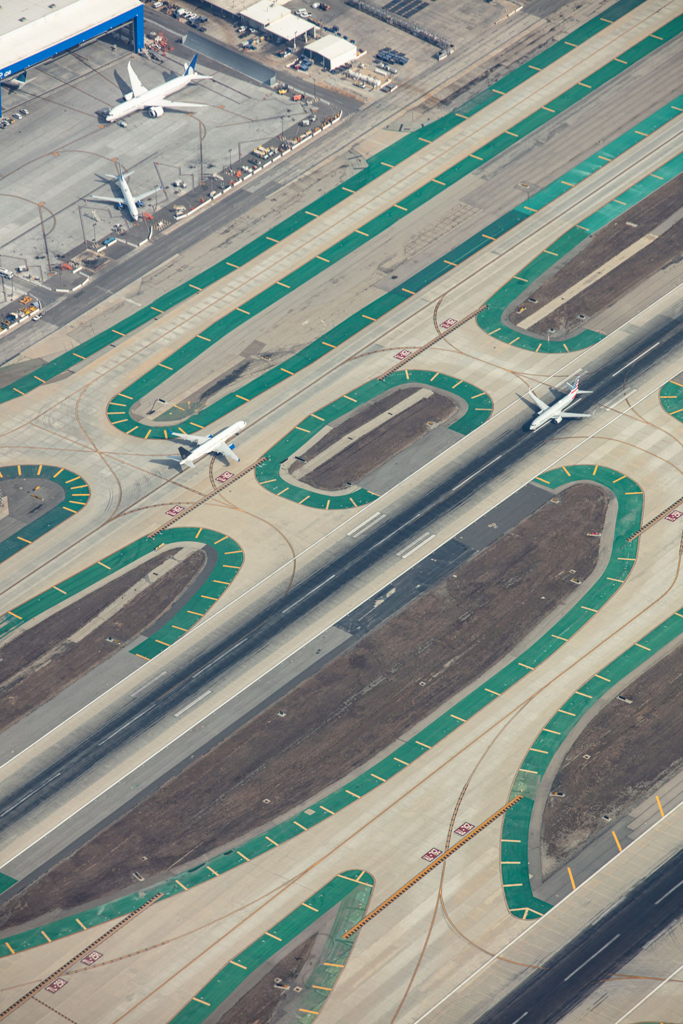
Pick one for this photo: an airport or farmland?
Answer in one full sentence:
It's an airport.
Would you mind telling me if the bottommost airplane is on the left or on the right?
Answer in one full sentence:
The bottommost airplane appears in the left half of the scene.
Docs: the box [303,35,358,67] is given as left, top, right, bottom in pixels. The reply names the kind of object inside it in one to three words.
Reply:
shed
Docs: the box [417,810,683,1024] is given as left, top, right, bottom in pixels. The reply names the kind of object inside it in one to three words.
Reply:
runway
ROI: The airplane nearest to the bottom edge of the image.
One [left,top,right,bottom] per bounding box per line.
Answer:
[167,423,246,469]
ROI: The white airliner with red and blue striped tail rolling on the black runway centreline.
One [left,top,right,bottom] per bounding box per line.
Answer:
[528,371,594,430]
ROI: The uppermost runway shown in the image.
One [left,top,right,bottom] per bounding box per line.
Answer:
[0,284,683,866]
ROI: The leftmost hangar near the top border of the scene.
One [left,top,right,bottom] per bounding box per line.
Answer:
[0,0,145,119]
